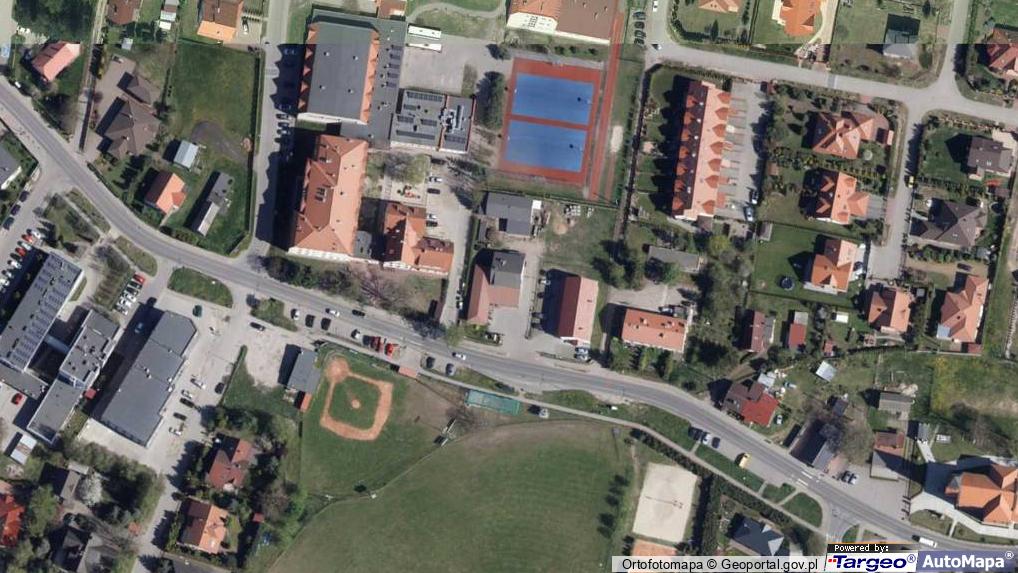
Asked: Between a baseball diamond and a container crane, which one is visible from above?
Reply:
baseball diamond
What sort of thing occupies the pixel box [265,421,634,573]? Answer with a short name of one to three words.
sports field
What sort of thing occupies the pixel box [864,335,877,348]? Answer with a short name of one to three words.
gazebo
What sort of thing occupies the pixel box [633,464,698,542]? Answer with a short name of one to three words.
sports court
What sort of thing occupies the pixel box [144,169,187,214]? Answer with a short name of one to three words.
house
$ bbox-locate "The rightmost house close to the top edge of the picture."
[986,28,1018,83]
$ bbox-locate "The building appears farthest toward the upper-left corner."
[29,37,80,81]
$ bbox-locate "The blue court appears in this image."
[499,57,601,188]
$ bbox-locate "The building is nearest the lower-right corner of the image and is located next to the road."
[945,456,1018,531]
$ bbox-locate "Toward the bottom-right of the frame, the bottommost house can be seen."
[732,516,788,568]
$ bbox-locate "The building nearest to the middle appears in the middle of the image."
[466,251,525,326]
